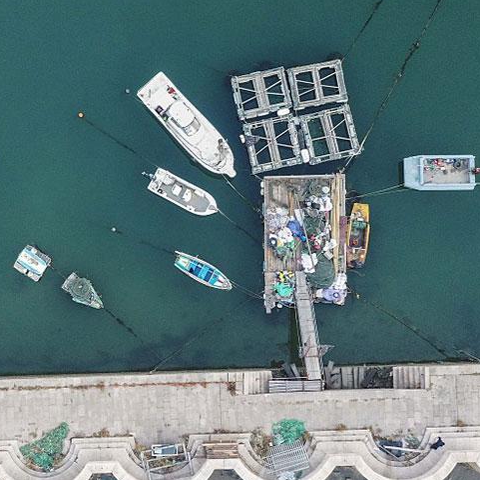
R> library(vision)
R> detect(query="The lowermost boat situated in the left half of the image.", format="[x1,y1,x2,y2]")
[61,271,103,309]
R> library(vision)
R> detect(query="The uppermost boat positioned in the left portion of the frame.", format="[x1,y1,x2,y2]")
[138,69,238,175]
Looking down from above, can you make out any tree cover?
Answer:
No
